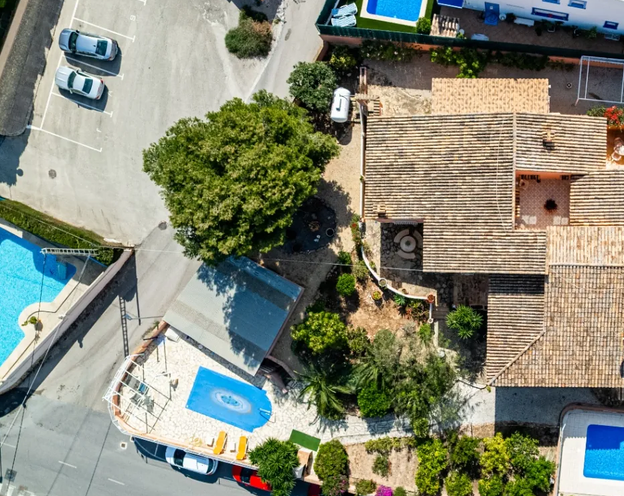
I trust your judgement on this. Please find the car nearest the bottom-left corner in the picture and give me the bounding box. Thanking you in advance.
[164,447,221,478]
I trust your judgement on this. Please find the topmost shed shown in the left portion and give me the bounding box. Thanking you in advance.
[163,259,315,376]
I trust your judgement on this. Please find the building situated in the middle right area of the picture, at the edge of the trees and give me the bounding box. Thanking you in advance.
[353,78,624,403]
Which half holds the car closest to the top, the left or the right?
left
